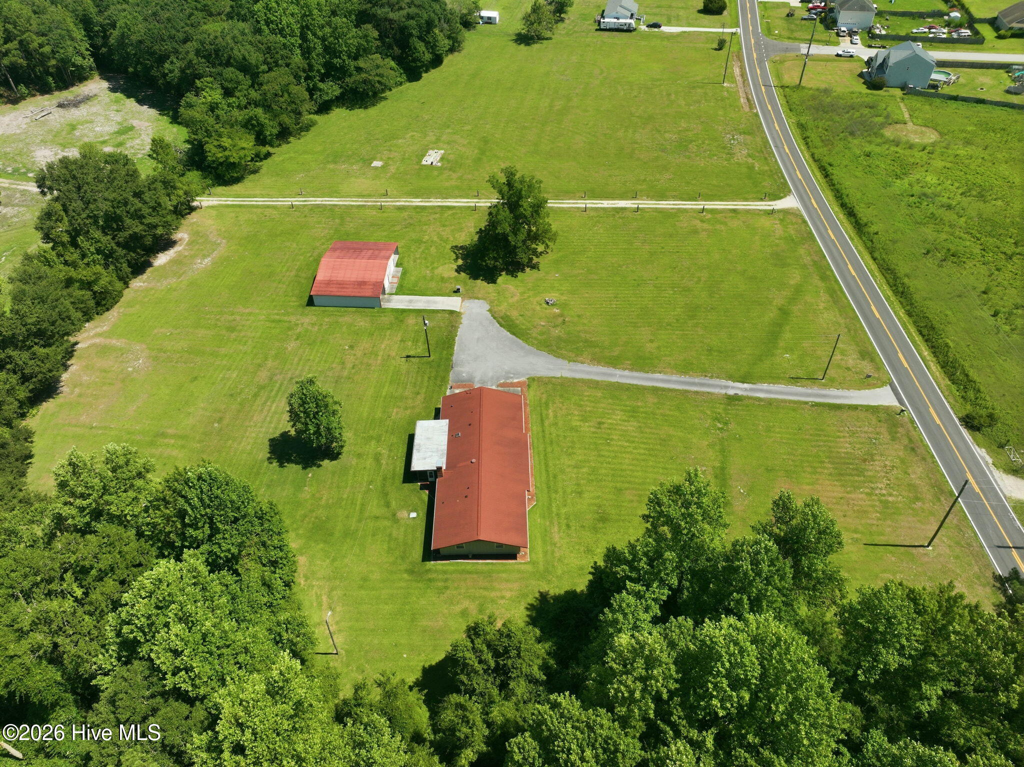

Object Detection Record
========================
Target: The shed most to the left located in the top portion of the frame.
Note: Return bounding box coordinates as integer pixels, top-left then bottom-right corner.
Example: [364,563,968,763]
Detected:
[310,240,398,308]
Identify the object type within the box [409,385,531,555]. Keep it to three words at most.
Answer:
house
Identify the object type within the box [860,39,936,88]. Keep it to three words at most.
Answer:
house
